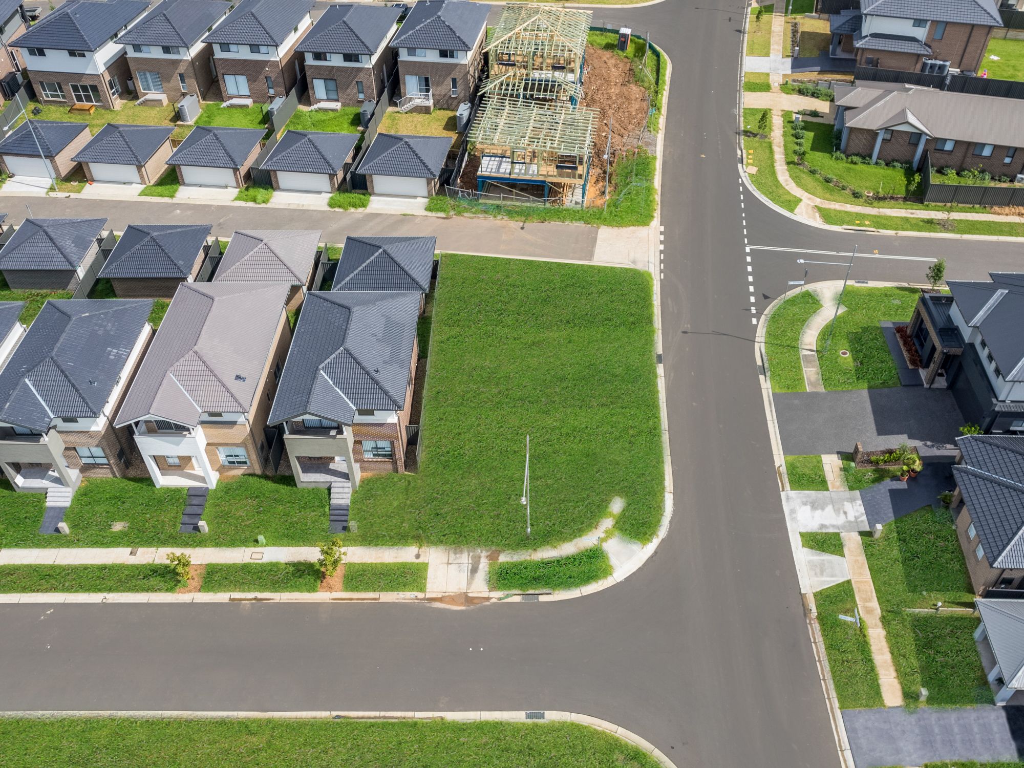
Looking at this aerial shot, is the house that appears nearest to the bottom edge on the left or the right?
right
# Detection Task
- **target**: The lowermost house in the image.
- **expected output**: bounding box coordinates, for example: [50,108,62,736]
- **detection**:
[971,595,1024,714]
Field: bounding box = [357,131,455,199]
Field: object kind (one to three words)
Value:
building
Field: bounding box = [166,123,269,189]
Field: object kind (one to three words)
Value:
building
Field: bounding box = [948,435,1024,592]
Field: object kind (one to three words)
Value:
house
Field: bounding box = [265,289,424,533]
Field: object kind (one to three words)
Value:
house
